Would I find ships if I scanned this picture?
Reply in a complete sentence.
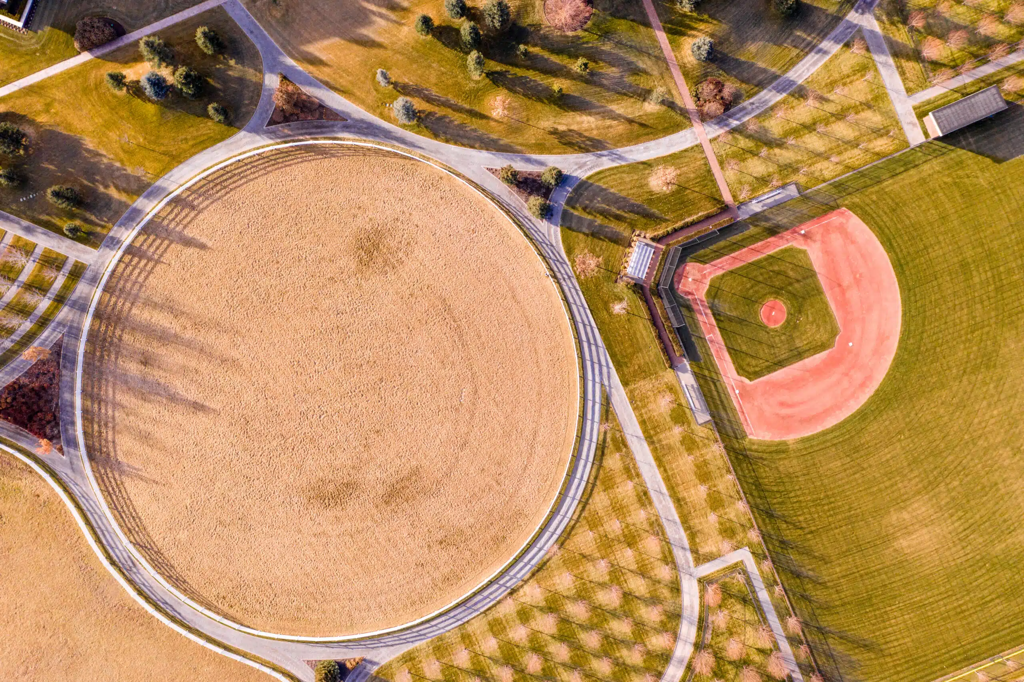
No, no ship can be seen from above.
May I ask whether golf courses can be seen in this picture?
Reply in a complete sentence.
No, there isn't any golf course down there.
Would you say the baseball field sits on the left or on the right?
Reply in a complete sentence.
It is on the right.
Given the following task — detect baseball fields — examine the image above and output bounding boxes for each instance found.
[661,99,1024,682]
